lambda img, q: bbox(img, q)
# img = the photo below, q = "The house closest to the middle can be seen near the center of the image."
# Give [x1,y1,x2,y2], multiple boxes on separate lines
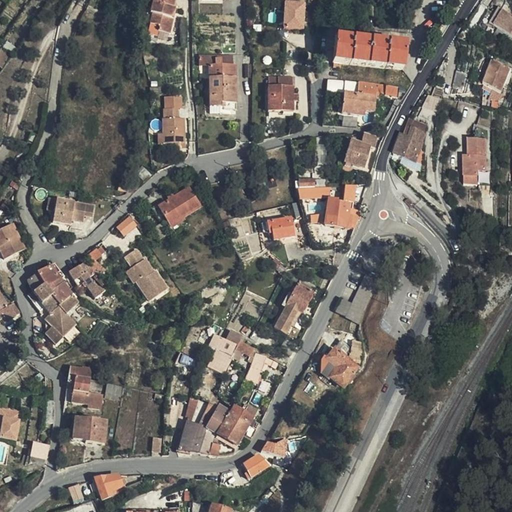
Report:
[268,216,296,244]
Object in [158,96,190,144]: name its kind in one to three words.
house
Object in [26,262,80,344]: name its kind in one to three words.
house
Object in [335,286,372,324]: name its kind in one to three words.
building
